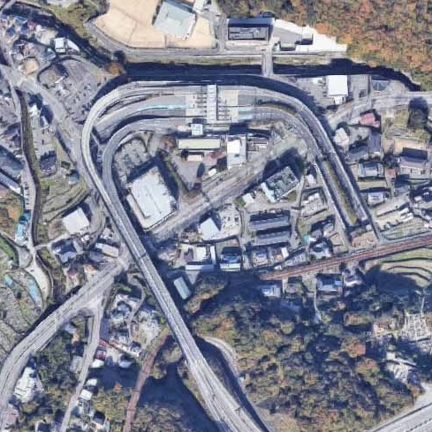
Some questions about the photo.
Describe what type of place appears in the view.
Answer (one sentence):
The area seen from above is a residential area.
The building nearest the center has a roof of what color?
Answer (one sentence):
The roof of the building nearest the center is white.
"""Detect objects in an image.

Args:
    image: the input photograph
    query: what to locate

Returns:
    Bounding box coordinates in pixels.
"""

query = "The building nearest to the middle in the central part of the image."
[198,218,223,242]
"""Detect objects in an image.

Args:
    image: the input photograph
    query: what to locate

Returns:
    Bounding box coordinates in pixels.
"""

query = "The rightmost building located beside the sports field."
[227,20,271,45]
